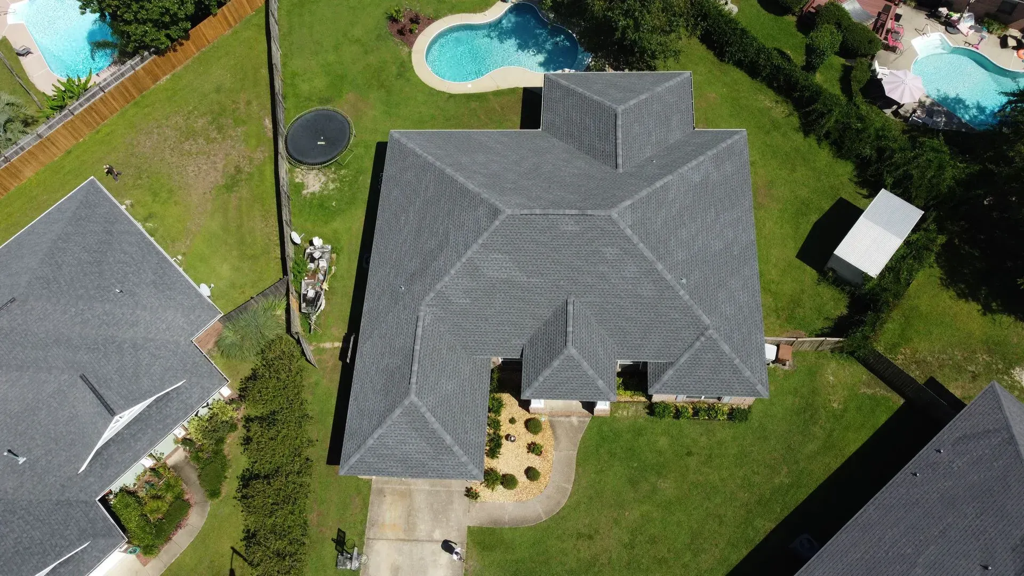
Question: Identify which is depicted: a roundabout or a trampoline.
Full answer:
This aerial view contains a trampoline.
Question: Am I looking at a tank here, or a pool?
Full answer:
I can see a pool in this picture.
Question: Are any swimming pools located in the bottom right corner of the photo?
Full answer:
No, I see no swimming pool in the bottom right corner of the photo.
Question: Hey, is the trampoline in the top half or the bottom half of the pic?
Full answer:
Seen from above, the trampoline lies in the top half of the view.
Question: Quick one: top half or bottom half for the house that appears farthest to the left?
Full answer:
The house that appears farthest to the left sits in the bottom half of the picture.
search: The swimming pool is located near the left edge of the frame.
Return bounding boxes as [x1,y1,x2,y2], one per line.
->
[5,0,122,80]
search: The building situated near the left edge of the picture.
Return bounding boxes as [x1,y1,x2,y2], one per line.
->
[0,177,243,576]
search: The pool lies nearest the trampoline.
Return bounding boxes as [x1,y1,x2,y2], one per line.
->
[424,0,592,83]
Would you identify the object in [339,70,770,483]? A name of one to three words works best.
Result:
house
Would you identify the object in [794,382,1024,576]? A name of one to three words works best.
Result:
house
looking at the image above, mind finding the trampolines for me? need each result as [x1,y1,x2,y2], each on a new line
[286,109,355,171]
